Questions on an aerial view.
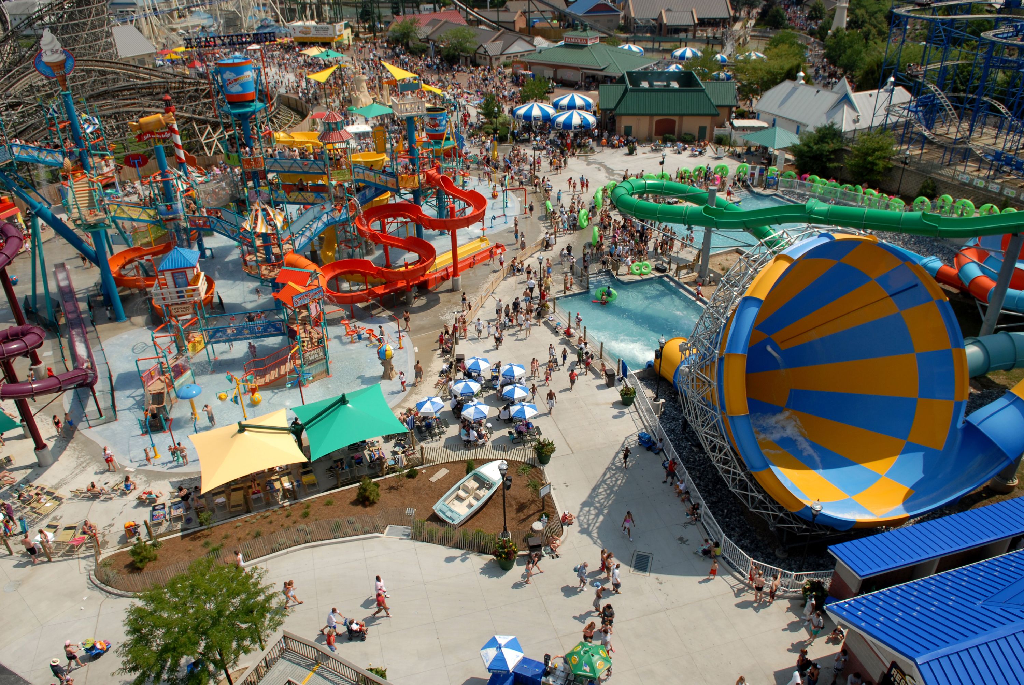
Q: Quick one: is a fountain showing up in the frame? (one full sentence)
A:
Yes, I can see a fountain in this picture.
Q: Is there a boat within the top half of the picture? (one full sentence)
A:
No, within the top half of the picture there is no boat.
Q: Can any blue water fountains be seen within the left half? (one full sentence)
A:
Yes, a blue water fountain can be seen within the left half.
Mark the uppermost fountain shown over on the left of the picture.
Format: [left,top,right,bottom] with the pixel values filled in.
[366,336,398,384]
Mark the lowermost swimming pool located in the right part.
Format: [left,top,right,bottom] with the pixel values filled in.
[560,273,724,368]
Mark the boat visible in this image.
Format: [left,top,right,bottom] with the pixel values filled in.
[432,462,509,524]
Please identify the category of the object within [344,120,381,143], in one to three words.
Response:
building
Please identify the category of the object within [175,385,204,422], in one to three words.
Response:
fountain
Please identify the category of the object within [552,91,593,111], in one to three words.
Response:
umbrella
